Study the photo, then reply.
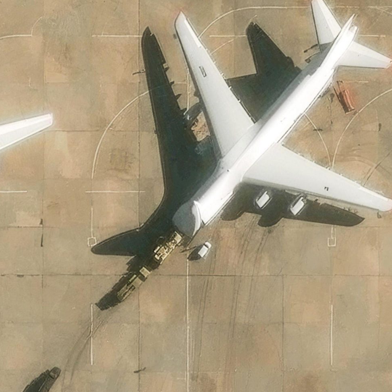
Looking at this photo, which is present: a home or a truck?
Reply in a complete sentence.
The image shows a truck.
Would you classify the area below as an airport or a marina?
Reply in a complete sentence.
This looks like an airport.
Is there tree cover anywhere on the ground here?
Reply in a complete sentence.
No, tree cover can't be seen anywhere here.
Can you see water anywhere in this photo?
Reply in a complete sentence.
No, the picture contains no water.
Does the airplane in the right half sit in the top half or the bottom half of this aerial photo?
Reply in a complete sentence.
Seen from above, the airplane in the right half lies in the top half of the view.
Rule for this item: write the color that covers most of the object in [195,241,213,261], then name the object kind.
white vehicle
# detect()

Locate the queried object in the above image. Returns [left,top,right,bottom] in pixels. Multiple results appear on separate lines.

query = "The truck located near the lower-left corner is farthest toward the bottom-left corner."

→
[40,367,64,392]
